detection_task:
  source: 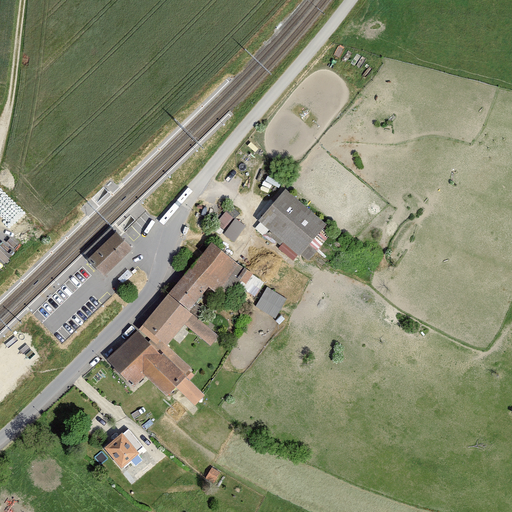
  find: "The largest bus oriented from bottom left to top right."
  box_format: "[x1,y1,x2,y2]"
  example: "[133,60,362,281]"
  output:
[159,186,194,224]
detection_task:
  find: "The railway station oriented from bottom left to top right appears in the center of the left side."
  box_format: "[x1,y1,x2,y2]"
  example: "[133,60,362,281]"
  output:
[0,76,232,341]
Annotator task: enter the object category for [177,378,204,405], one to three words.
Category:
building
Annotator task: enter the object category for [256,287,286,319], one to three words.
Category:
shed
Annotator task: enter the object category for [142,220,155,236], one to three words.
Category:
vehicle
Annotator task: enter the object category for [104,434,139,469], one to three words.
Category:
house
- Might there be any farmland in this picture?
Yes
